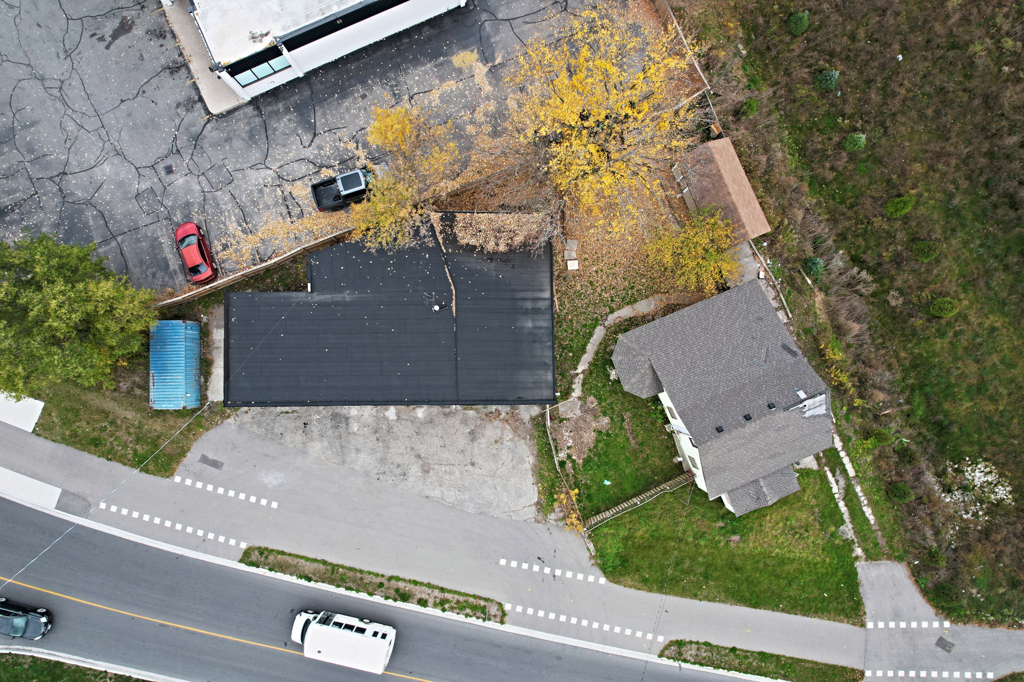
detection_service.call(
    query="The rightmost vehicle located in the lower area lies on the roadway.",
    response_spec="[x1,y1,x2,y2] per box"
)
[289,604,396,672]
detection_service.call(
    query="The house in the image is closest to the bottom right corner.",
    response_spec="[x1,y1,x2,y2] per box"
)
[611,278,836,517]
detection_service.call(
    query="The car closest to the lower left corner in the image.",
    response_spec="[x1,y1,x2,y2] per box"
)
[0,595,50,637]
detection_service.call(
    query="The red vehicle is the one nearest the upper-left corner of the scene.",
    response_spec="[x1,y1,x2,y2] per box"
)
[176,222,218,288]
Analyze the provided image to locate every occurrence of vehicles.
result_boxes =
[0,595,50,637]
[289,604,396,672]
[176,222,218,288]
[309,157,394,210]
